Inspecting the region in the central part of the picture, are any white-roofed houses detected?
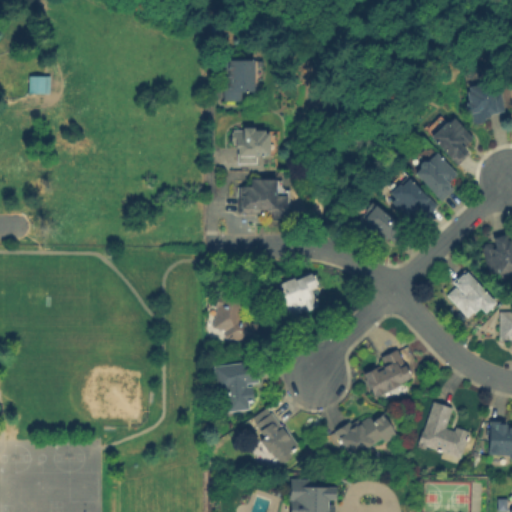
Yes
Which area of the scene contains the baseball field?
bottom left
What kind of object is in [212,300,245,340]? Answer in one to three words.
house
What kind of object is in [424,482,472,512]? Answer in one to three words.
sports court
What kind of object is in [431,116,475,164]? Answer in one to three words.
house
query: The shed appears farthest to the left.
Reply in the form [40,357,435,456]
[30,73,50,95]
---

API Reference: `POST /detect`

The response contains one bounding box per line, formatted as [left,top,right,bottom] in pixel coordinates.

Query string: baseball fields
[82,366,150,431]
